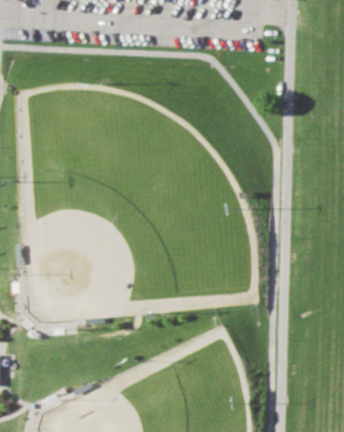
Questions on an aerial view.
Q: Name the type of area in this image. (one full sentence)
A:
The picture captures a sports ground.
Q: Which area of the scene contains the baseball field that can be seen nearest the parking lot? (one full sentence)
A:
You can find the baseball field that can be seen nearest the parking lot in the center area of the picture.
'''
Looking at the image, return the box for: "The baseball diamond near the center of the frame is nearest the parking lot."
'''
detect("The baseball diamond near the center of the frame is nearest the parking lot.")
[16,84,260,322]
